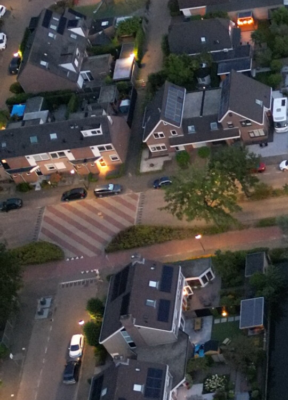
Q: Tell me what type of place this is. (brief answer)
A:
residential area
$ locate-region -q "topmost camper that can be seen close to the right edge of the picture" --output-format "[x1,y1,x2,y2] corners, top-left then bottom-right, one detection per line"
[273,97,288,131]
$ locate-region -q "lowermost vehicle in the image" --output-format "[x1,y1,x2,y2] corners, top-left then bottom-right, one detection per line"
[62,358,81,387]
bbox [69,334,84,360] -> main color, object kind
white car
